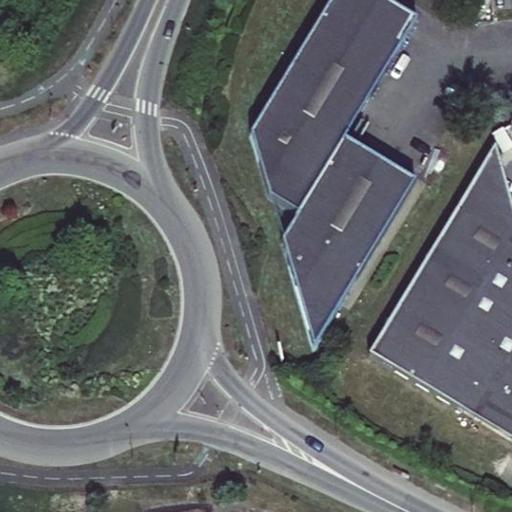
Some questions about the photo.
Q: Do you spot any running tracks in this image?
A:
No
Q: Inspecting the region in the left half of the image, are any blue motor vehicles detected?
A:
No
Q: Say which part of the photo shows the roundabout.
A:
left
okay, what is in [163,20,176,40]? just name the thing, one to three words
vehicle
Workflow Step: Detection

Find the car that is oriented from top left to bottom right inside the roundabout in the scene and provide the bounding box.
[122,171,142,187]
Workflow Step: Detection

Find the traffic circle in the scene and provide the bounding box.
[0,134,222,468]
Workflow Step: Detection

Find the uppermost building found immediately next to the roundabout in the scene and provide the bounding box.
[254,0,416,216]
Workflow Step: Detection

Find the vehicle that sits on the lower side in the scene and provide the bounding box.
[305,435,325,452]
